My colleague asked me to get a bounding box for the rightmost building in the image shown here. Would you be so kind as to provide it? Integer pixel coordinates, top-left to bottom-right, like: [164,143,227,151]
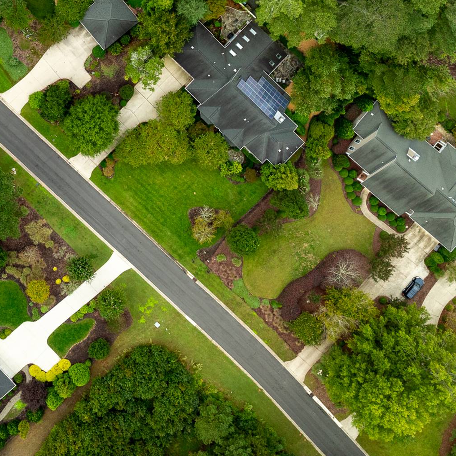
[347,98,456,252]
